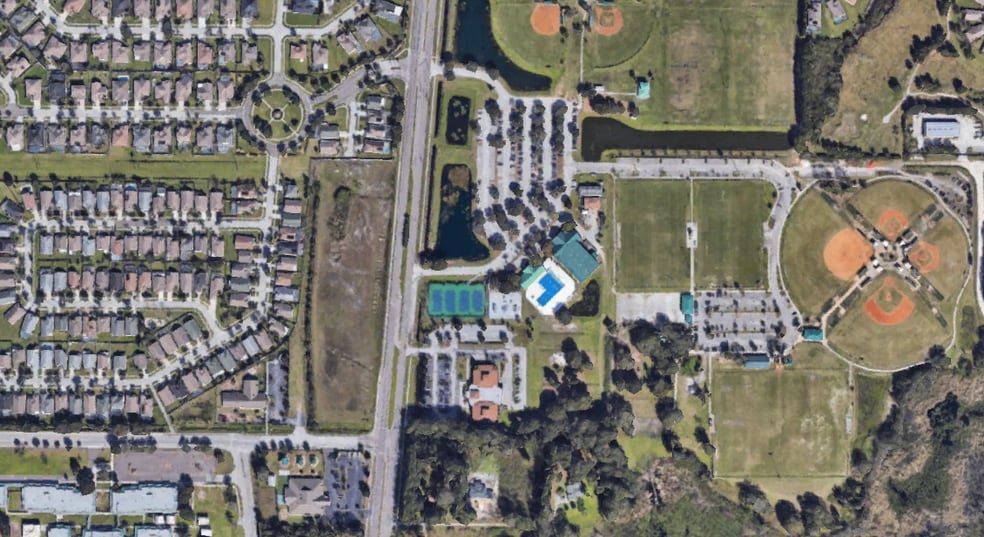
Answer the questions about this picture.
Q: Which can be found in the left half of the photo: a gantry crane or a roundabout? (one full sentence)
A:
It is a roundabout that can be seen in the left half of the photo.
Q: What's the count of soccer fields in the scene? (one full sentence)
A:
In total, 4 soccer fields can be seen.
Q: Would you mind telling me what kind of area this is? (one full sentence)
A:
What you see here is a residential area.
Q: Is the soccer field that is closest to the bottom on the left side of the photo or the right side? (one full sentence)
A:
The soccer field that is closest to the bottom appears in the right half of the scene.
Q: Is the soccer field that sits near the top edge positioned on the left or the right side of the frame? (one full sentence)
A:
The soccer field that sits near the top edge is on the right side of the image.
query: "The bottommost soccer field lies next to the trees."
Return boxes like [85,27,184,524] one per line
[714,368,848,476]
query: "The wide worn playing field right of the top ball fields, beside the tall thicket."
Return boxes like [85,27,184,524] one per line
[664,12,790,122]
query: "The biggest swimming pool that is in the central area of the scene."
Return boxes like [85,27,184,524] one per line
[526,258,576,315]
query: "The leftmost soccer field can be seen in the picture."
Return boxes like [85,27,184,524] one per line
[617,180,690,289]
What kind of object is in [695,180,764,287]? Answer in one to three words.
soccer field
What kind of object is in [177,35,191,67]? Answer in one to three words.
house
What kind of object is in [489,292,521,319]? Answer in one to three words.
sports court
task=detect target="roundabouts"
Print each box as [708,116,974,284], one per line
[242,79,313,150]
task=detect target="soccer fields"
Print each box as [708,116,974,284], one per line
[664,12,790,122]
[695,180,764,287]
[714,368,848,476]
[617,180,690,289]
